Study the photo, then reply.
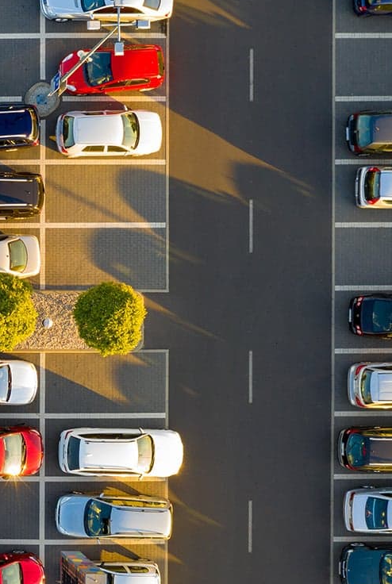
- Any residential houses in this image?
No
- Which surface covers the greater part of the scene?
paved ground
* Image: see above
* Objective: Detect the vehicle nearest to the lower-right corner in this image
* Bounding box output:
[337,540,392,584]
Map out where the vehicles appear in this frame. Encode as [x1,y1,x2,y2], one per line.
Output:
[58,428,183,479]
[350,0,392,21]
[347,294,392,337]
[0,554,44,584]
[55,107,161,159]
[55,492,173,542]
[88,557,162,584]
[0,427,44,480]
[0,360,37,409]
[0,170,46,218]
[0,107,41,155]
[337,540,392,584]
[57,43,167,97]
[0,238,41,284]
[336,425,392,472]
[346,362,392,410]
[343,484,392,533]
[353,166,392,210]
[344,110,392,157]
